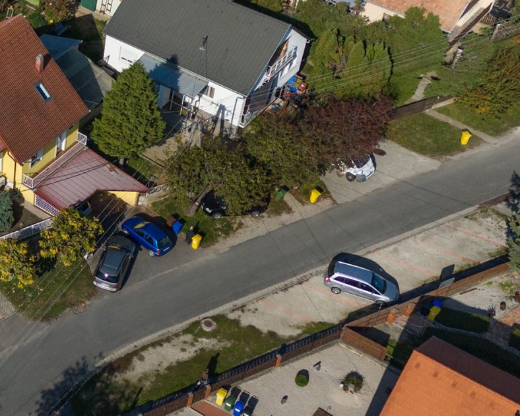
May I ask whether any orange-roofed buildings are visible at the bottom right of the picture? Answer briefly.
Yes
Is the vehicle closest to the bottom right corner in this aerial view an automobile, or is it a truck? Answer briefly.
automobile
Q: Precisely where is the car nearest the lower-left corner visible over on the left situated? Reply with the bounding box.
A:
[89,236,135,294]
